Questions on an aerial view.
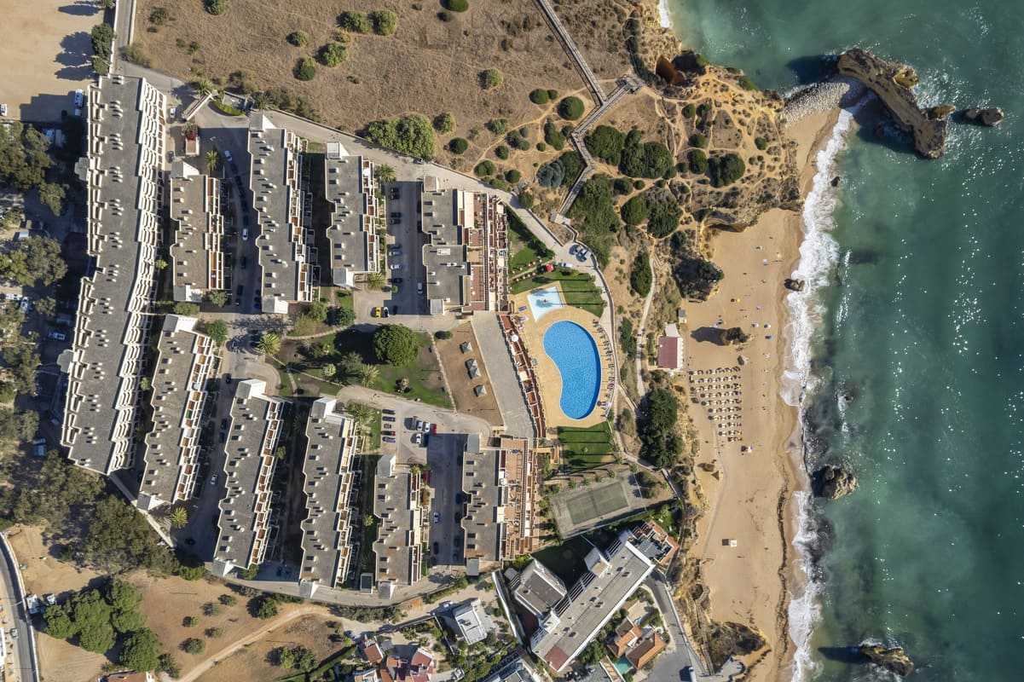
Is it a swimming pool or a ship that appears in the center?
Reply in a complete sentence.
Visible in the center is a swimming pool.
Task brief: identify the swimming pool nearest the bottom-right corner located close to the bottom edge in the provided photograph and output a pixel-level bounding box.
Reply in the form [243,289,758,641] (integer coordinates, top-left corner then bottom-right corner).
[615,655,633,676]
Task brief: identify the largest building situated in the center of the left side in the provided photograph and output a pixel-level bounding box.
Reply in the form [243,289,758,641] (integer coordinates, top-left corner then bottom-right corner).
[57,76,174,475]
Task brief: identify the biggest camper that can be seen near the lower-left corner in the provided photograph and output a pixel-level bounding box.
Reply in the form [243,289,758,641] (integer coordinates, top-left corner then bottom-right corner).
[26,593,40,614]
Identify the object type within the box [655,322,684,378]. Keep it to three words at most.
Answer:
building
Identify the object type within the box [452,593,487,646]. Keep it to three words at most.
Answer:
house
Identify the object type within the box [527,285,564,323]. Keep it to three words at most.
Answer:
swimming pool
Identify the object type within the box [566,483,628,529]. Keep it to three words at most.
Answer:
tennis court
